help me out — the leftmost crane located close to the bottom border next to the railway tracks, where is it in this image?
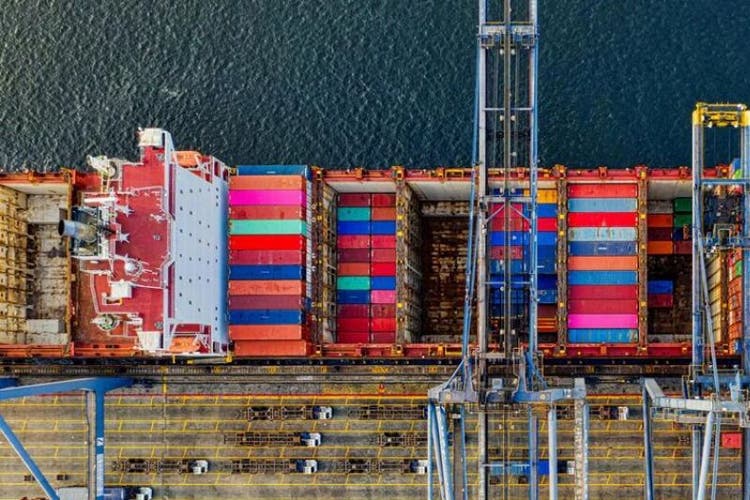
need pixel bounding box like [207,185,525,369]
[0,377,149,500]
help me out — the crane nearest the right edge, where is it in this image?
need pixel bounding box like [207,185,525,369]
[600,102,750,500]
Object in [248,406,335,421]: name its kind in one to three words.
vehicle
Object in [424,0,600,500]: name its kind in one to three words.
container crane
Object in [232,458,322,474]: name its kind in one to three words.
vehicle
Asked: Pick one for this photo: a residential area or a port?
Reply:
port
